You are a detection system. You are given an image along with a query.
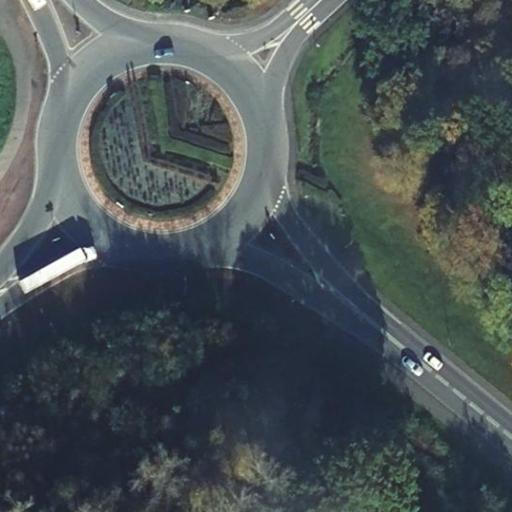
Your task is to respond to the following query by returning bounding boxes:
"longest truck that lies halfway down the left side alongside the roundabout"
[18,244,97,294]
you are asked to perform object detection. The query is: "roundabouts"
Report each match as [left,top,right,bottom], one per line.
[50,36,274,260]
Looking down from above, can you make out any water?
No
